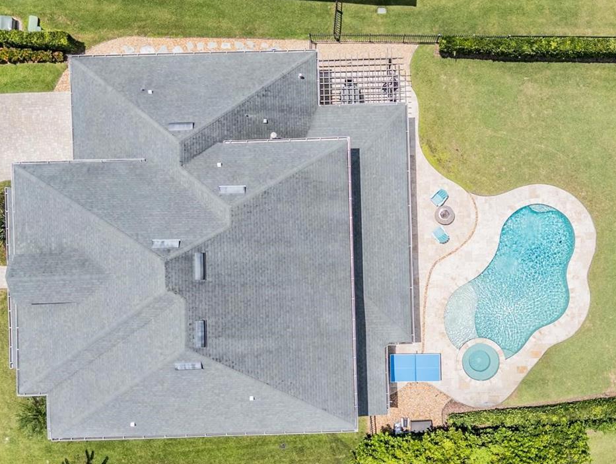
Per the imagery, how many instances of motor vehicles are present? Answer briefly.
zero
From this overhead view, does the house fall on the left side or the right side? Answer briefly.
left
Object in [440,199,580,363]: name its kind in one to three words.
swimming pool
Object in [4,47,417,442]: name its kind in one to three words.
house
